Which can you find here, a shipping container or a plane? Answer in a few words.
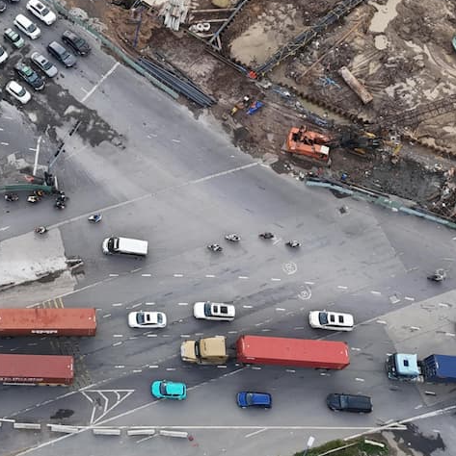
shipping container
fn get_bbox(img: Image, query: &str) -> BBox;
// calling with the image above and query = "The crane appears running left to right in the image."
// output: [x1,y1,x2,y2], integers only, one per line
[293,96,456,165]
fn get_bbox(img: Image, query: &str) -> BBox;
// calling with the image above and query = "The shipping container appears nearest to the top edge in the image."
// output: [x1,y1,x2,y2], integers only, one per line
[0,310,94,337]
